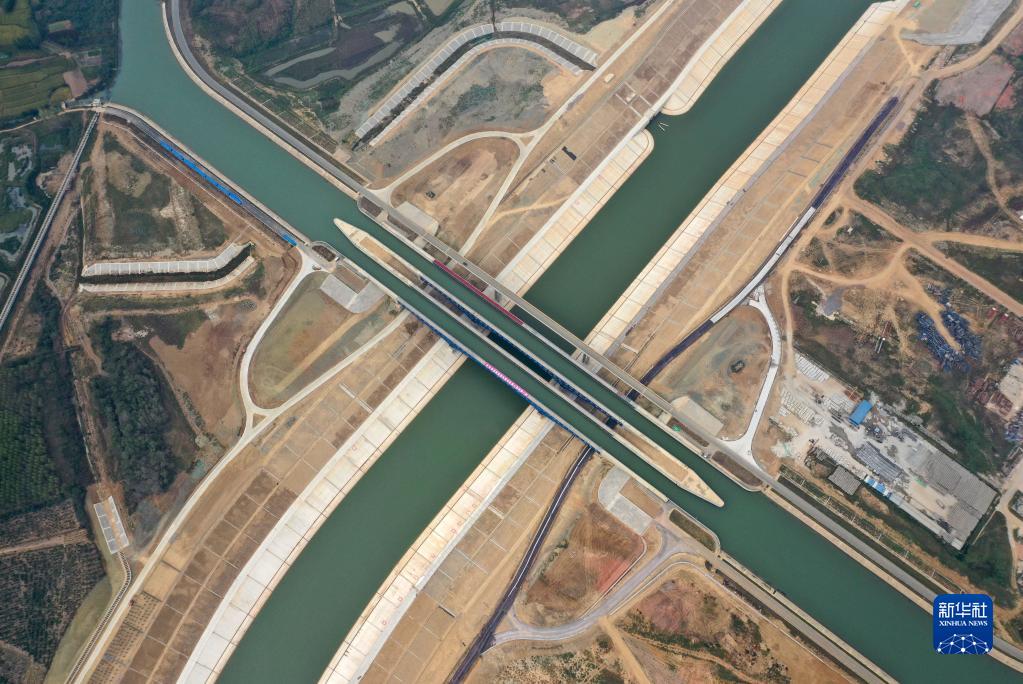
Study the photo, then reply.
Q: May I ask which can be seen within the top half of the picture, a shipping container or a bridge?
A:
bridge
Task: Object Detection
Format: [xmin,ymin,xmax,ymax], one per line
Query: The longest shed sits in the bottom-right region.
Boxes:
[886,494,958,549]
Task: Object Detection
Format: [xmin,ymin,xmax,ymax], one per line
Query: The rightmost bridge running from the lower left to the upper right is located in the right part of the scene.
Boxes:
[623,76,681,148]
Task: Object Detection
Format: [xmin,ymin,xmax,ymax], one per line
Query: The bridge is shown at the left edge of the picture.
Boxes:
[0,112,100,333]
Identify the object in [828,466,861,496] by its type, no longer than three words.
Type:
shed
